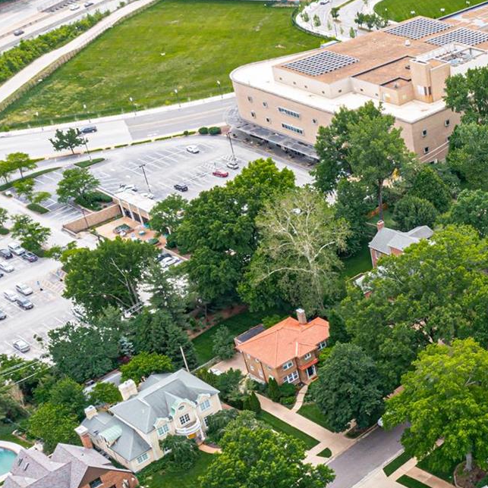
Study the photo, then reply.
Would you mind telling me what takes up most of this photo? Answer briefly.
trees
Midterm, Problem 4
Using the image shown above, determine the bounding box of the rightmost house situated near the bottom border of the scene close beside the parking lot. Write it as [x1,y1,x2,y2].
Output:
[75,368,220,477]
